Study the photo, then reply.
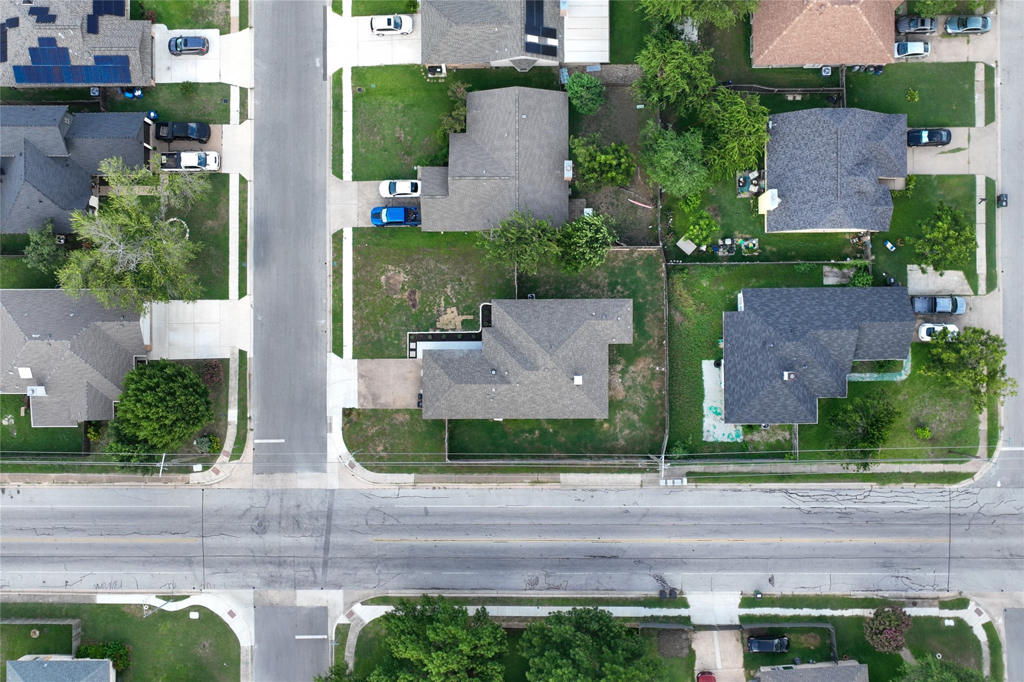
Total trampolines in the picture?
none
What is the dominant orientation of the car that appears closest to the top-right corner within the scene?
from side to side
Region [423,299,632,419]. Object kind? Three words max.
house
